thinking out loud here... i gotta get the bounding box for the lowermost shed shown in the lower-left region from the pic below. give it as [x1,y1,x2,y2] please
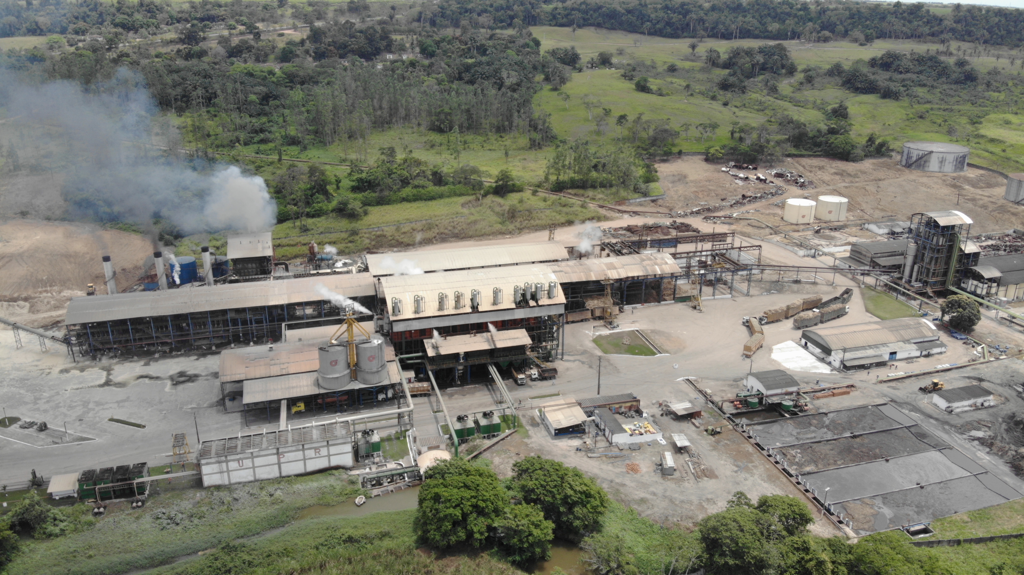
[42,469,87,504]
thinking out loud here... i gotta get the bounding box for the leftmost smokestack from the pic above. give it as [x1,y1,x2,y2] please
[102,255,120,295]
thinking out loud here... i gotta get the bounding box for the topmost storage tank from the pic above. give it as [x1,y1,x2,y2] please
[902,142,971,176]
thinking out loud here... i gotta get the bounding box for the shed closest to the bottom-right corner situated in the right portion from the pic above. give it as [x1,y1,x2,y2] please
[928,383,996,411]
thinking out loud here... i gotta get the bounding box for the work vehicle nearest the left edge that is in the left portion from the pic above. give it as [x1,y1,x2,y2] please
[81,284,97,297]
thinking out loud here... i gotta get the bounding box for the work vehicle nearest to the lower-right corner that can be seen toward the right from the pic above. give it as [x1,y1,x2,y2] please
[918,376,937,397]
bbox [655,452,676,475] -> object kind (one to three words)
building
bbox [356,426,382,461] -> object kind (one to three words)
cooling tower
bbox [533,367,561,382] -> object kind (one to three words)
vehicle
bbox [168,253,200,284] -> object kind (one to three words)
storage tank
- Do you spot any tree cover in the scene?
Yes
